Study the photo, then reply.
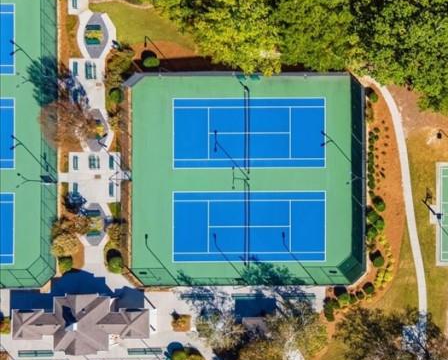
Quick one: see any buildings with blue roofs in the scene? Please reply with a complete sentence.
No, the frame has no building with a blue roof in it.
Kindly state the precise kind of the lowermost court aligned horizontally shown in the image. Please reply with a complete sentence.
From above, the lowermost court aligned horizontally can be identified as a tennis court.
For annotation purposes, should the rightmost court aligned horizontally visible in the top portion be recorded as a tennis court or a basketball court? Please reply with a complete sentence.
Looking closely, the rightmost court aligned horizontally visible in the top portion is a tennis court.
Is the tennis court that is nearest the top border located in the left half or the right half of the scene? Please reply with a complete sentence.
You can find the tennis court that is nearest the top border on the left side of the picture.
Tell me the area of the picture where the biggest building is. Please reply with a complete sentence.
The biggest building is located in the bottom left region of the scene.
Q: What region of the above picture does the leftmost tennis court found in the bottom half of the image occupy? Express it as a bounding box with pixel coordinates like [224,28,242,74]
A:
[0,181,57,285]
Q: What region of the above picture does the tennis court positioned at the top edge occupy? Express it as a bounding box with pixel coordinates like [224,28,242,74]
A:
[0,0,57,86]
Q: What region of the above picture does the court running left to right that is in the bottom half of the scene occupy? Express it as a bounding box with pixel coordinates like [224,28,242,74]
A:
[132,180,364,285]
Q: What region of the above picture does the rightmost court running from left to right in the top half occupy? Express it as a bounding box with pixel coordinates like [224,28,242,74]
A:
[132,74,362,180]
